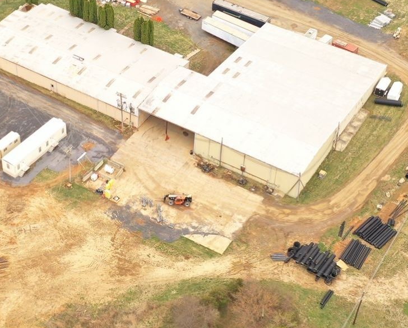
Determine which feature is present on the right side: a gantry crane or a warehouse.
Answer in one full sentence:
The feature located on the right side is a warehouse.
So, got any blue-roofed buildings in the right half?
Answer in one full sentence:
No, the scene shows no blue-roofed building in the right half.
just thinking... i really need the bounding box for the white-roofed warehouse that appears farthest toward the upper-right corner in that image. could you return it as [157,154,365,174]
[191,21,390,197]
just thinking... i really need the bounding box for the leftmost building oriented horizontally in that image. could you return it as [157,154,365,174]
[0,0,203,126]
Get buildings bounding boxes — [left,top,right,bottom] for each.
[0,0,203,126]
[191,21,390,197]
